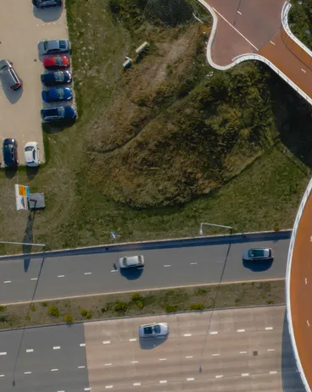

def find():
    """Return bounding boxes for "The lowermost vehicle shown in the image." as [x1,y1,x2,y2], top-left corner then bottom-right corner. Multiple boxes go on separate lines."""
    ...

[138,323,172,337]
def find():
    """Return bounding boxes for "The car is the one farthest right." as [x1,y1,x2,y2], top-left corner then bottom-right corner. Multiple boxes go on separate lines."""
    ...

[243,247,276,262]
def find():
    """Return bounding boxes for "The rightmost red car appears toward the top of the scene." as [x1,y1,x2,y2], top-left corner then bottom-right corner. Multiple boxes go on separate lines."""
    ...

[42,54,72,69]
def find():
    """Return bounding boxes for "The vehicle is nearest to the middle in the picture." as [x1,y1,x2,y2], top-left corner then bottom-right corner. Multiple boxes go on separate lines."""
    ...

[119,255,146,269]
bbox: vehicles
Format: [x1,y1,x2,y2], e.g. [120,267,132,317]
[33,0,65,8]
[38,38,73,54]
[1,138,19,168]
[119,255,146,269]
[40,107,79,122]
[243,247,276,262]
[40,70,74,86]
[0,59,22,92]
[39,87,74,102]
[24,140,42,167]
[138,323,172,337]
[42,54,72,69]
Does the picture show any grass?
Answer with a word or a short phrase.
Yes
